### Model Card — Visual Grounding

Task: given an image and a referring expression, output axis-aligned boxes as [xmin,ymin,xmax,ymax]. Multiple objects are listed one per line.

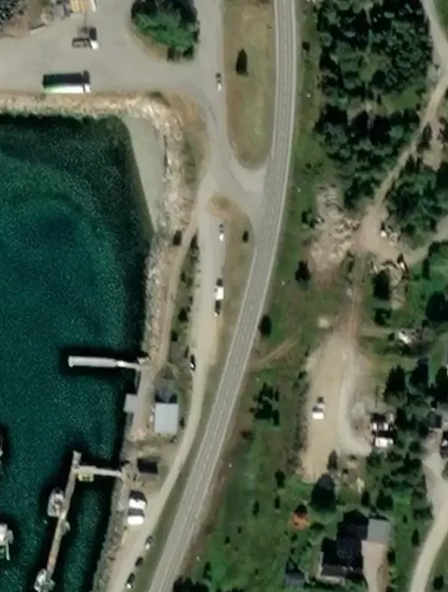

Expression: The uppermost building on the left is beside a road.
[152,404,179,434]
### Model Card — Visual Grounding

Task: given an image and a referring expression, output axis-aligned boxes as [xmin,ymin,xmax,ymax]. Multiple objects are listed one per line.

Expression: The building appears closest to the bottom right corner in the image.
[368,519,390,542]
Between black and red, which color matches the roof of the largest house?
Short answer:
black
